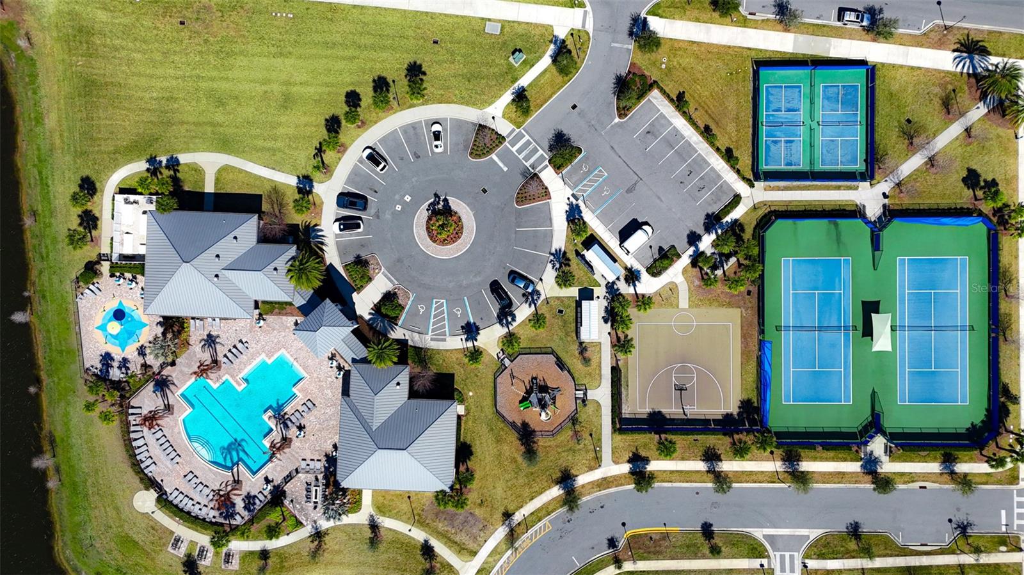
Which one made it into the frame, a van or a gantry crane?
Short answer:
van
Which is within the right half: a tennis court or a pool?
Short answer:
tennis court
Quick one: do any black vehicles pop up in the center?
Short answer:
Yes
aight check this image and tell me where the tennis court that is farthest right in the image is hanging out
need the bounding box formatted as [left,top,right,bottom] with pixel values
[878,219,990,441]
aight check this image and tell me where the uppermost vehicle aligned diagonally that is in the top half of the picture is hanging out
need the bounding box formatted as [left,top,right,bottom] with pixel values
[362,146,390,174]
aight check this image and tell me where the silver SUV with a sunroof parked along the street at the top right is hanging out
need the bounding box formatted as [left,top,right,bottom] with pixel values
[840,11,871,29]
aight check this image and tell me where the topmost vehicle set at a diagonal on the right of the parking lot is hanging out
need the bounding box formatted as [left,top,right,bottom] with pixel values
[618,226,652,257]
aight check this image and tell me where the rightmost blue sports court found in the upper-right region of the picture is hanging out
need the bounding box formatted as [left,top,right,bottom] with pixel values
[811,69,869,178]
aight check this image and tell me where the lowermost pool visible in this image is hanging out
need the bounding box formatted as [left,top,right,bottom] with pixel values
[176,348,310,481]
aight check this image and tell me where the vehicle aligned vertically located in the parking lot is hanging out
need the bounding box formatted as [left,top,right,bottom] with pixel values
[430,123,445,153]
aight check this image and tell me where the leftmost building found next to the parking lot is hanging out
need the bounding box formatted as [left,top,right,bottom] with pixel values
[143,210,299,319]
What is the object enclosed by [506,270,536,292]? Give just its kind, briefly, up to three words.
car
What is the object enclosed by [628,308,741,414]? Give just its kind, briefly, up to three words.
basketball court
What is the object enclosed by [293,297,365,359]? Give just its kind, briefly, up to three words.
building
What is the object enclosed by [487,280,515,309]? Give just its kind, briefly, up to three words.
car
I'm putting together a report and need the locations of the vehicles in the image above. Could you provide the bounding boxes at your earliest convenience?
[487,280,515,309]
[335,219,364,233]
[430,123,445,153]
[506,270,536,292]
[336,195,369,211]
[840,11,871,29]
[618,226,652,257]
[362,146,390,174]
